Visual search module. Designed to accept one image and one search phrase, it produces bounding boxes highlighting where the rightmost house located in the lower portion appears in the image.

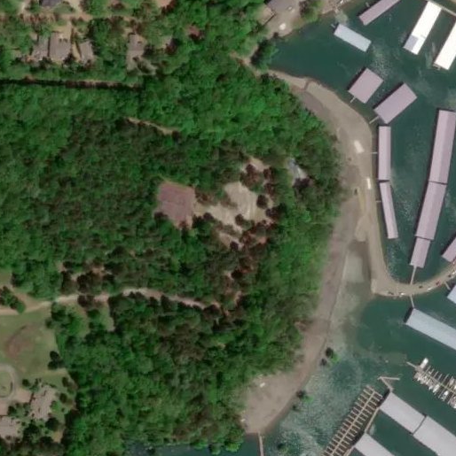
[30,382,59,419]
